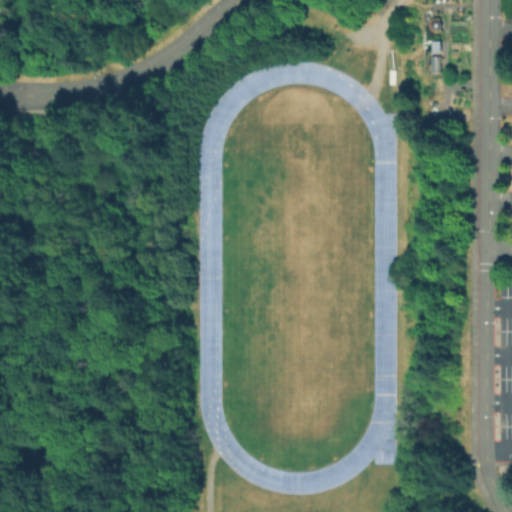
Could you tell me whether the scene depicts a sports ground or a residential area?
sports ground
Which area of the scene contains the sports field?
center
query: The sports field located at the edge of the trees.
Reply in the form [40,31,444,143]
[222,84,376,472]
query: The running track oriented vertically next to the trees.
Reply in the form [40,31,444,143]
[201,63,397,494]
